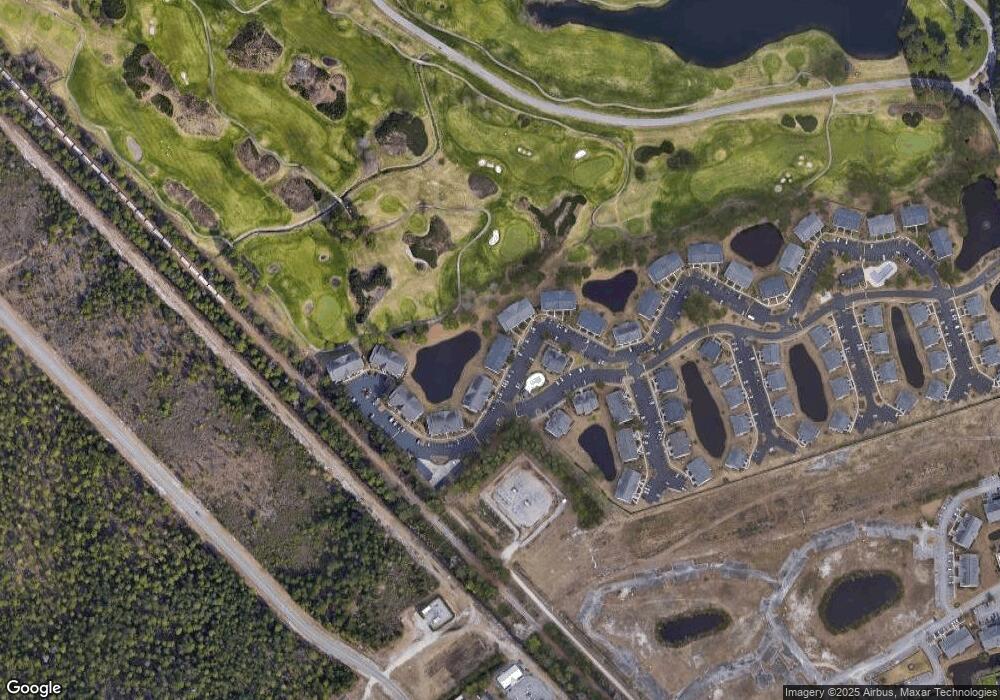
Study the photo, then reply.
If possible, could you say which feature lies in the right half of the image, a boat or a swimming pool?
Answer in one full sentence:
There is a swimming pool in the right half of the image.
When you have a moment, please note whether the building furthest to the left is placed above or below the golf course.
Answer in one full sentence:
Looking at the photo, you'll find the building furthest to the left below the golf course.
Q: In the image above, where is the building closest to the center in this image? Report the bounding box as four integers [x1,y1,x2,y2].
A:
[484,333,519,373]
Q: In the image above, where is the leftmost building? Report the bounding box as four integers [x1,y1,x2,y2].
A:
[326,350,365,384]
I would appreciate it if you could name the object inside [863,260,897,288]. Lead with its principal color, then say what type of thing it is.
white swimming pool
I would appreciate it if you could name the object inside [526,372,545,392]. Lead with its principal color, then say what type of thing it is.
white swimming pool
